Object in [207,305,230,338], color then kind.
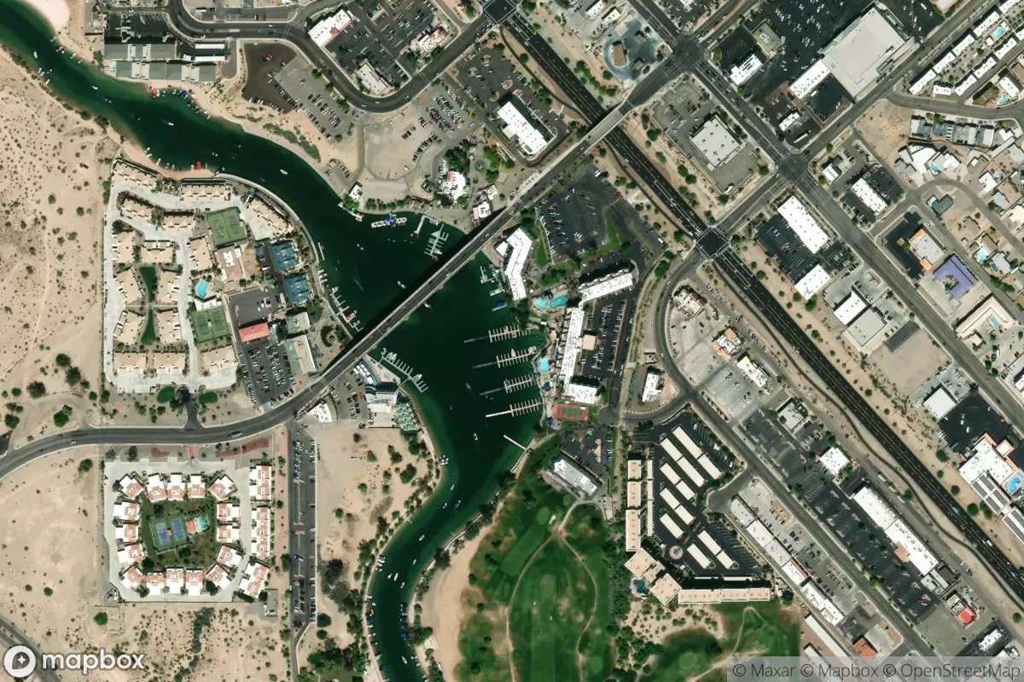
green tennis court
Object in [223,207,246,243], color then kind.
green tennis court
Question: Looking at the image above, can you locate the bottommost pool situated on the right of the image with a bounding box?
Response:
[631,577,652,597]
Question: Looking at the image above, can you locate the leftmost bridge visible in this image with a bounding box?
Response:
[363,227,494,348]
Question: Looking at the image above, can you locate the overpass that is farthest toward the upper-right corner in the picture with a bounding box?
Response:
[585,109,626,148]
